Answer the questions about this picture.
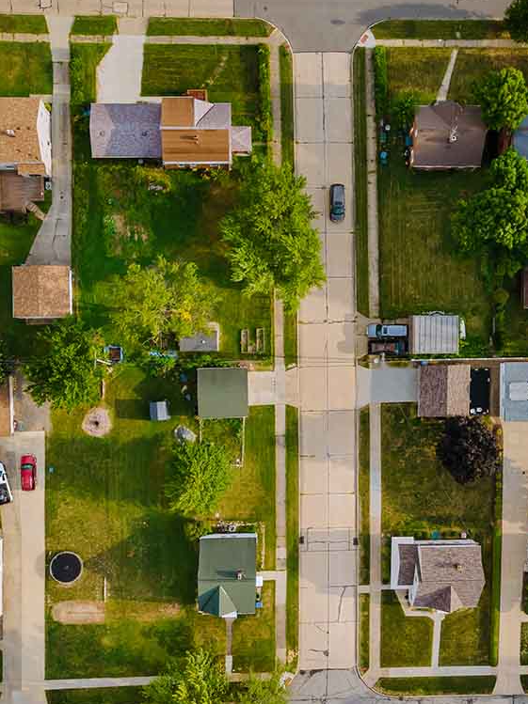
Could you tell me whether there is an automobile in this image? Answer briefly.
Yes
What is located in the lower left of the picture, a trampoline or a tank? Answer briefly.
trampoline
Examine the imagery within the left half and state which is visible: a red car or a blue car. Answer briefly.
red car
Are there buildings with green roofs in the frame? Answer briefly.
Yes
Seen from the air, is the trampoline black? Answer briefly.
Yes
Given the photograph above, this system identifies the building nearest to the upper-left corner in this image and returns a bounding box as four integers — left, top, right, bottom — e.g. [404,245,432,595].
[0,97,50,178]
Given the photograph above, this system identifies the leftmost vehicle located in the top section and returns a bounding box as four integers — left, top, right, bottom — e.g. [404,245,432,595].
[328,184,346,223]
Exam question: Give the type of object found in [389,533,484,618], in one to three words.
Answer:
house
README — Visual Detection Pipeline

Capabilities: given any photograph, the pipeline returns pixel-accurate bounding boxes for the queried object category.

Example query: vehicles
[19,453,37,490]
[0,462,13,505]
[367,321,407,338]
[328,184,346,223]
[368,339,407,356]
